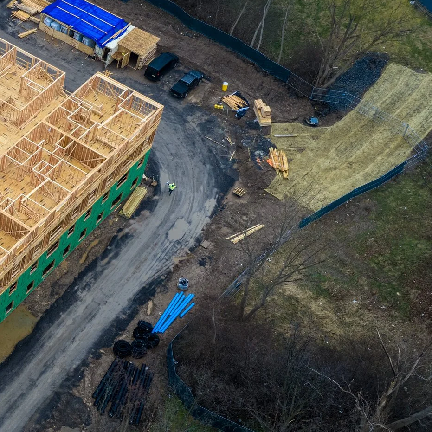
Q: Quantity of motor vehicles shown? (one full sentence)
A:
The picture shows 2 motor vehicles.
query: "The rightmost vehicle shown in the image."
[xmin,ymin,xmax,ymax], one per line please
[169,69,205,100]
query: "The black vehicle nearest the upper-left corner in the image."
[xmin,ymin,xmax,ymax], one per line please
[145,53,181,84]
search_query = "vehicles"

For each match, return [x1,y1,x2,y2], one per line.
[145,53,181,84]
[169,69,205,100]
